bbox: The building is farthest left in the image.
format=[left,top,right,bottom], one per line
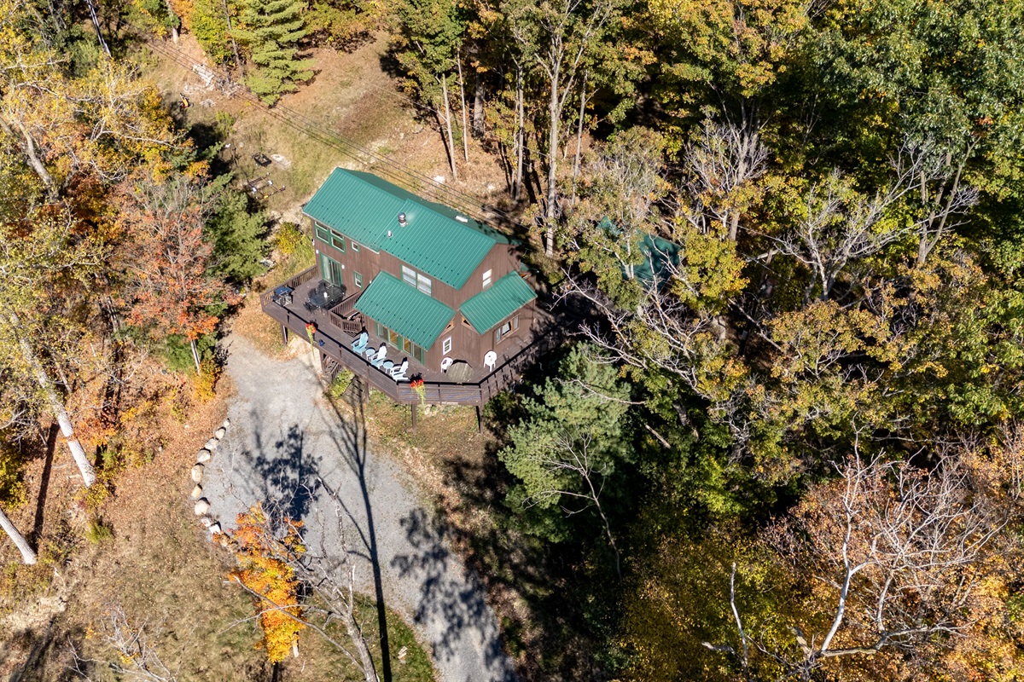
[297,168,539,374]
